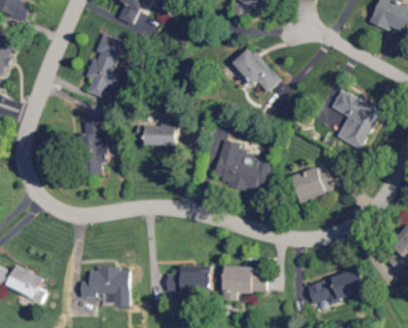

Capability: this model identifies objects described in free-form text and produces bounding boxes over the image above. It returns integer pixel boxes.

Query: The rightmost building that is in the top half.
[374,0,408,32]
